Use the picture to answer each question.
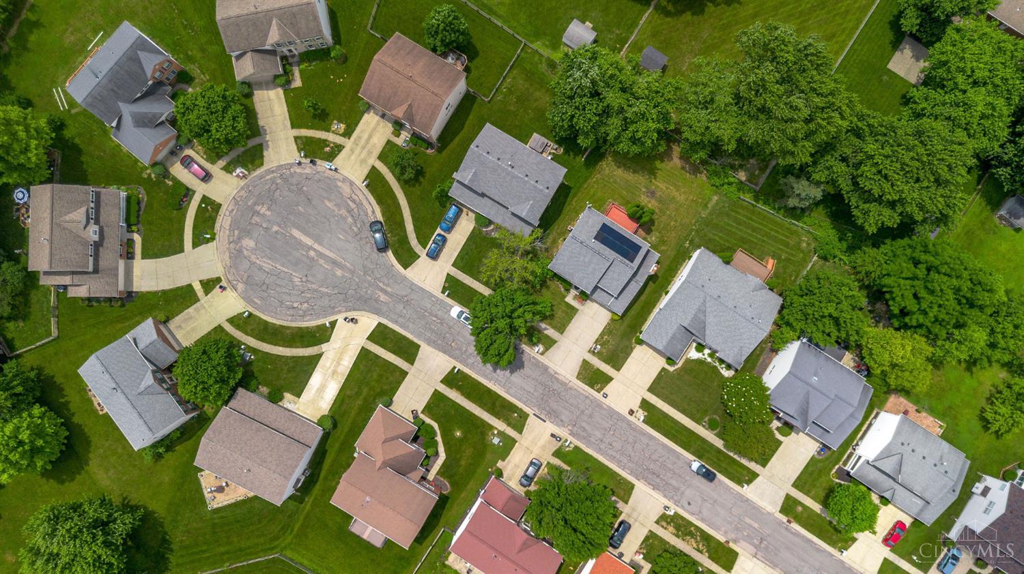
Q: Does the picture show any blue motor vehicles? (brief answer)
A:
Yes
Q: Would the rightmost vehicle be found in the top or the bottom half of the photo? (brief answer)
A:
bottom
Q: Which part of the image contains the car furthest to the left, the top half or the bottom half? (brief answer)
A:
top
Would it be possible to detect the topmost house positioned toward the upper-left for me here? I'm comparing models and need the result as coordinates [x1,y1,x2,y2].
[217,0,331,83]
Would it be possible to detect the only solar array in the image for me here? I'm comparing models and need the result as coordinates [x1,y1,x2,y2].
[595,222,642,263]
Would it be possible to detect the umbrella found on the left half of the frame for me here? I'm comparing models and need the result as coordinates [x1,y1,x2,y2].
[15,189,30,203]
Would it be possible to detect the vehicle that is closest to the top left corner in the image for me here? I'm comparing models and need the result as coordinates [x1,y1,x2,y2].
[178,152,213,183]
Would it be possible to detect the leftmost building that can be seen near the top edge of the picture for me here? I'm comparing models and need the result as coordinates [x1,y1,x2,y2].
[63,20,184,166]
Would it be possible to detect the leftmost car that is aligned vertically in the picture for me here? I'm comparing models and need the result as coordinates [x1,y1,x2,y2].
[370,219,389,253]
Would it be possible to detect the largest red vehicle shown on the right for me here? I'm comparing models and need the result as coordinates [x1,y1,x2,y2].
[881,518,906,550]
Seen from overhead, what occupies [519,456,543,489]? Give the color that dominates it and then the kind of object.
gray car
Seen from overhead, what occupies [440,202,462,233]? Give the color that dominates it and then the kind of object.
blue vehicle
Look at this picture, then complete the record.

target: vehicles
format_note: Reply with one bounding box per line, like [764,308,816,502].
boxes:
[687,459,718,484]
[426,233,446,262]
[440,202,462,233]
[881,518,906,550]
[519,456,543,489]
[370,219,389,253]
[447,306,480,333]
[934,545,962,574]
[178,152,213,183]
[609,518,631,550]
